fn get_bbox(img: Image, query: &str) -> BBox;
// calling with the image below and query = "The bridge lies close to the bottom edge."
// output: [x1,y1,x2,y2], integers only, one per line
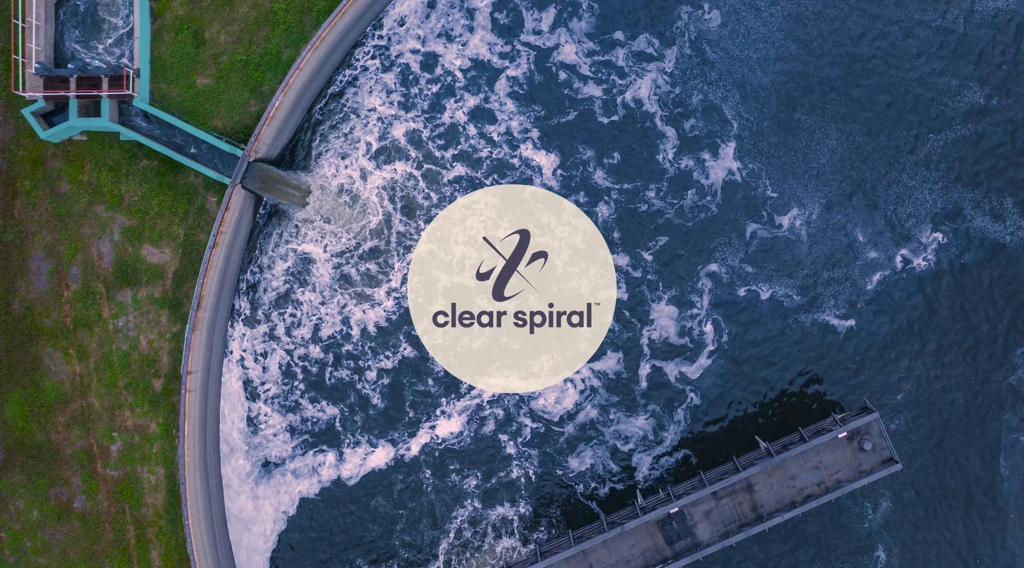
[490,393,904,568]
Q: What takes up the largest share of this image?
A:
water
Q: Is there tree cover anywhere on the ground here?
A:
No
